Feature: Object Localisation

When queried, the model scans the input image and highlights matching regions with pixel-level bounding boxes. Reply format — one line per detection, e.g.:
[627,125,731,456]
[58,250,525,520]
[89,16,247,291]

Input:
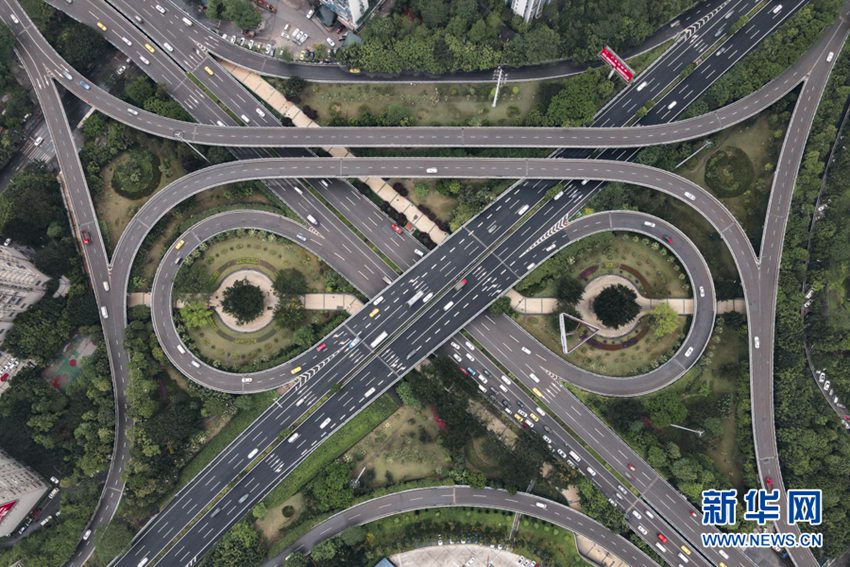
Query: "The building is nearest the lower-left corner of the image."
[0,455,47,548]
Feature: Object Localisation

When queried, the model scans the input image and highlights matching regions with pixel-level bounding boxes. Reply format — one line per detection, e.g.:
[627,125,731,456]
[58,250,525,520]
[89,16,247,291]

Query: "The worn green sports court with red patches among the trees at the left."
[43,335,95,392]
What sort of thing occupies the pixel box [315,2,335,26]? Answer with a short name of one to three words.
building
